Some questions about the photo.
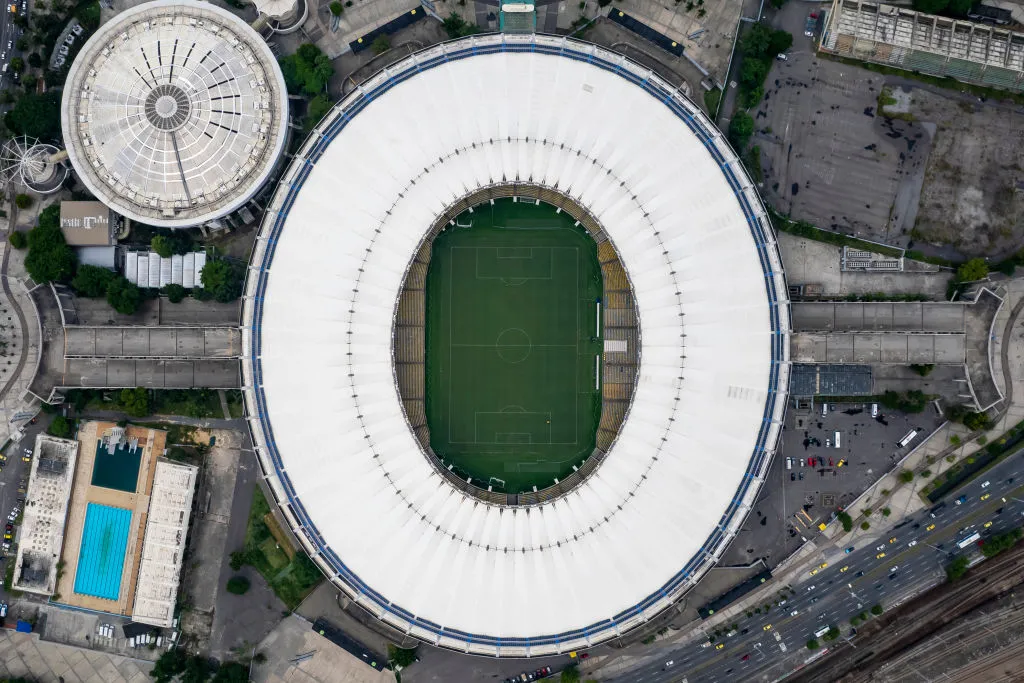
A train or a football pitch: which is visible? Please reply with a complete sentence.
Of the two, only a football pitch appears.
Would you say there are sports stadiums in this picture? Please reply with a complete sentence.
Yes, there is a sports stadium in the image.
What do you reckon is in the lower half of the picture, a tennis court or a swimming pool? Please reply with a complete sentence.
The one visible in the lower half of the picture is a swimming pool.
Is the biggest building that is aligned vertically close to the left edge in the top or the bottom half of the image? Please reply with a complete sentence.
Seen from above, the biggest building that is aligned vertically close to the left edge lies in the bottom half of the view.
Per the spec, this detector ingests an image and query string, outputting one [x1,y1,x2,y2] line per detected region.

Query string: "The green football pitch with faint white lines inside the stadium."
[426,198,603,493]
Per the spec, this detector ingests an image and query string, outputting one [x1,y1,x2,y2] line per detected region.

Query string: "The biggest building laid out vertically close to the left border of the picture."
[12,433,84,595]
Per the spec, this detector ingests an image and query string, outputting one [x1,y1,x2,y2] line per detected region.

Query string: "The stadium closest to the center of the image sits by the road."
[242,34,790,657]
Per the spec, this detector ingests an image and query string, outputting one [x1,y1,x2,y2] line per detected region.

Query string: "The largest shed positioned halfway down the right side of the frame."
[789,365,871,396]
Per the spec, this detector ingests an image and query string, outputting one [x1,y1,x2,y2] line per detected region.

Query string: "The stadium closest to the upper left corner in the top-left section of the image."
[62,0,306,238]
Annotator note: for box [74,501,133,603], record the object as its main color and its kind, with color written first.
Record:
blue swimming pool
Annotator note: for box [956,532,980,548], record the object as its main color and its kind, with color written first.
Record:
white vehicle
